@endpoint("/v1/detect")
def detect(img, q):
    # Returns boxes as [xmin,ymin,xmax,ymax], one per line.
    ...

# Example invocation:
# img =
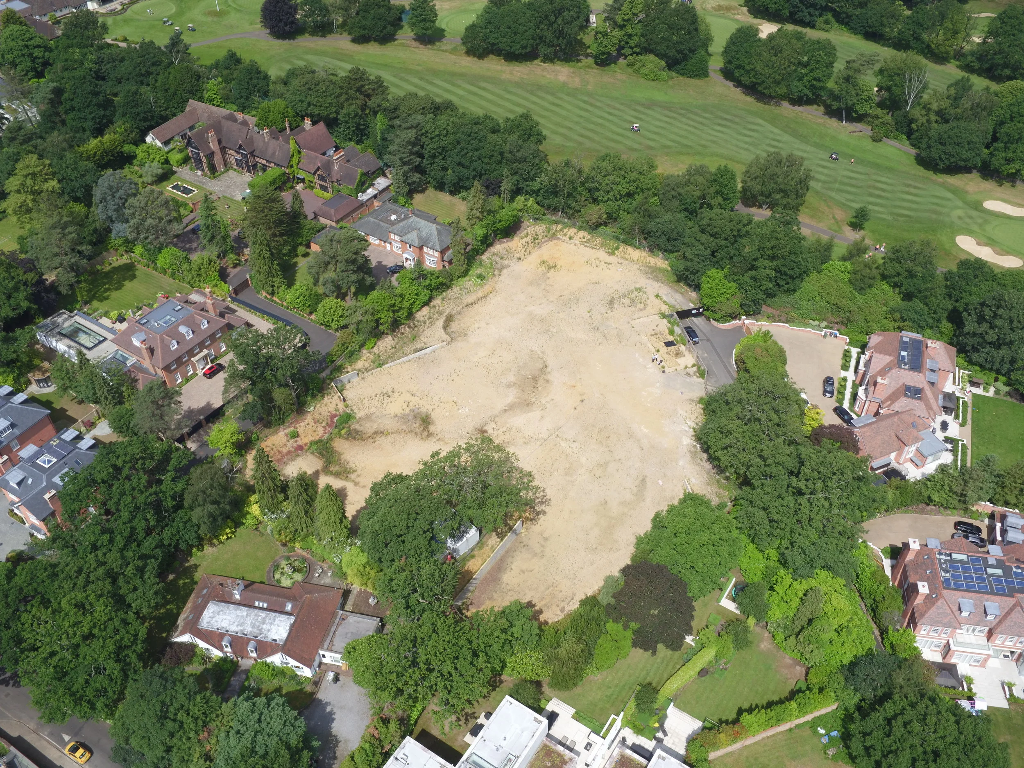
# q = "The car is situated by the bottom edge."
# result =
[64,743,95,767]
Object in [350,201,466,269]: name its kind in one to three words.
house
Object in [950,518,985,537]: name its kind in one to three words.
car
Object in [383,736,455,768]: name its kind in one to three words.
house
